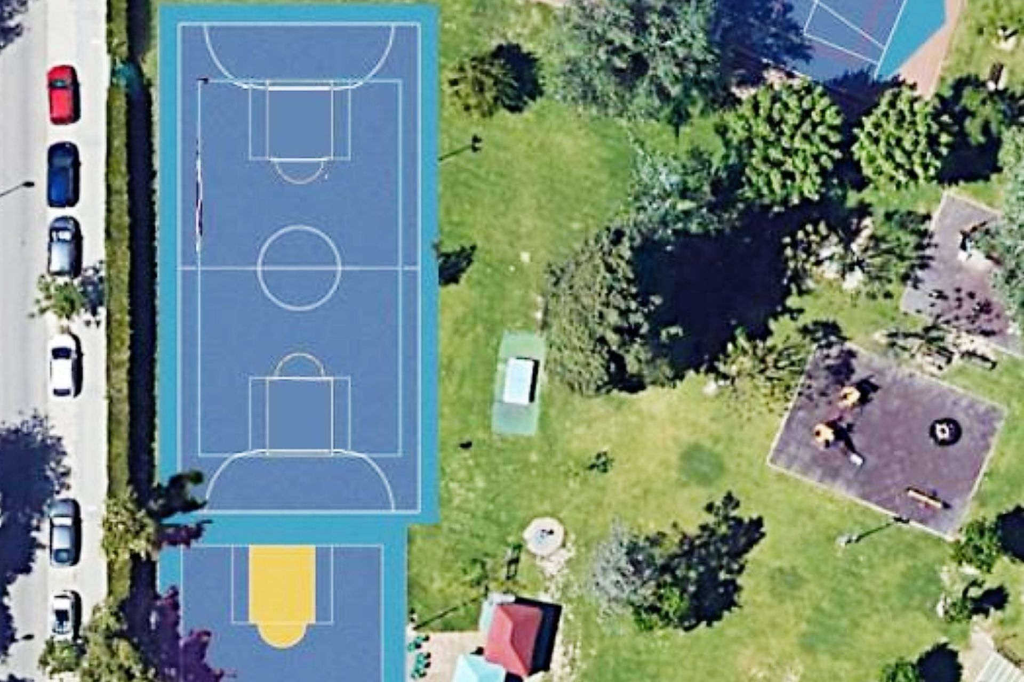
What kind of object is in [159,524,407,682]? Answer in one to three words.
sports court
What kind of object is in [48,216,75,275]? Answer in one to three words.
car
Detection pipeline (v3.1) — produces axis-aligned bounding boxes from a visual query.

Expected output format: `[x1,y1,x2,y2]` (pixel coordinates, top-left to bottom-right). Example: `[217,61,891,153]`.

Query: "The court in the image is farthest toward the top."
[706,0,945,86]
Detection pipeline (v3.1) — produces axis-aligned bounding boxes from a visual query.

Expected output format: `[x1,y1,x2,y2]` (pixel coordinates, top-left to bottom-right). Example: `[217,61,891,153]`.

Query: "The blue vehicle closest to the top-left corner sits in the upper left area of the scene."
[47,142,75,206]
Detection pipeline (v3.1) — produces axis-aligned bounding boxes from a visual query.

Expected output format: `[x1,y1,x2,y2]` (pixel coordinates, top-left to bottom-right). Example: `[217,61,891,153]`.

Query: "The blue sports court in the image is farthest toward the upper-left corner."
[158,5,439,524]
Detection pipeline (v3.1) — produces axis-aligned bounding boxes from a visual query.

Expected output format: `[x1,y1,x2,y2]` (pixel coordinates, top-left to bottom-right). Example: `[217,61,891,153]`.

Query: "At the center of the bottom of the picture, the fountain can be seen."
[524,517,564,557]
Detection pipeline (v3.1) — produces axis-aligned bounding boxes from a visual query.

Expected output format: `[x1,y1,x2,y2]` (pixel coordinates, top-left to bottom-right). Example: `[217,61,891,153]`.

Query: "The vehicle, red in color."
[46,64,74,124]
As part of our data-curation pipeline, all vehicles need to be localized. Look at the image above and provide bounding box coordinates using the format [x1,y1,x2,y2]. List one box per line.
[48,335,76,397]
[50,589,77,645]
[48,500,76,566]
[47,142,75,206]
[46,64,74,124]
[48,216,75,275]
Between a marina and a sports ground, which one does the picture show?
sports ground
